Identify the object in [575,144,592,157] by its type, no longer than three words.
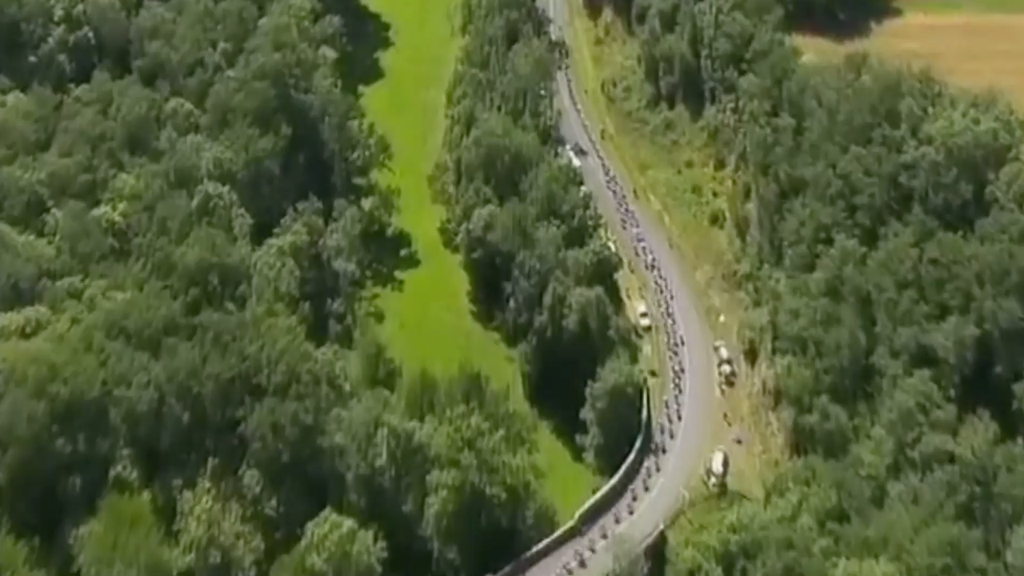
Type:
vehicle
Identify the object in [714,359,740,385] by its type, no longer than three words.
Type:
car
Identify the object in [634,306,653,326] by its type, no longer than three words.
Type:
car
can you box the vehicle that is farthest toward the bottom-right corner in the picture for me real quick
[708,449,729,488]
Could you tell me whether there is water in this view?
No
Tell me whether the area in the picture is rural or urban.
rural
